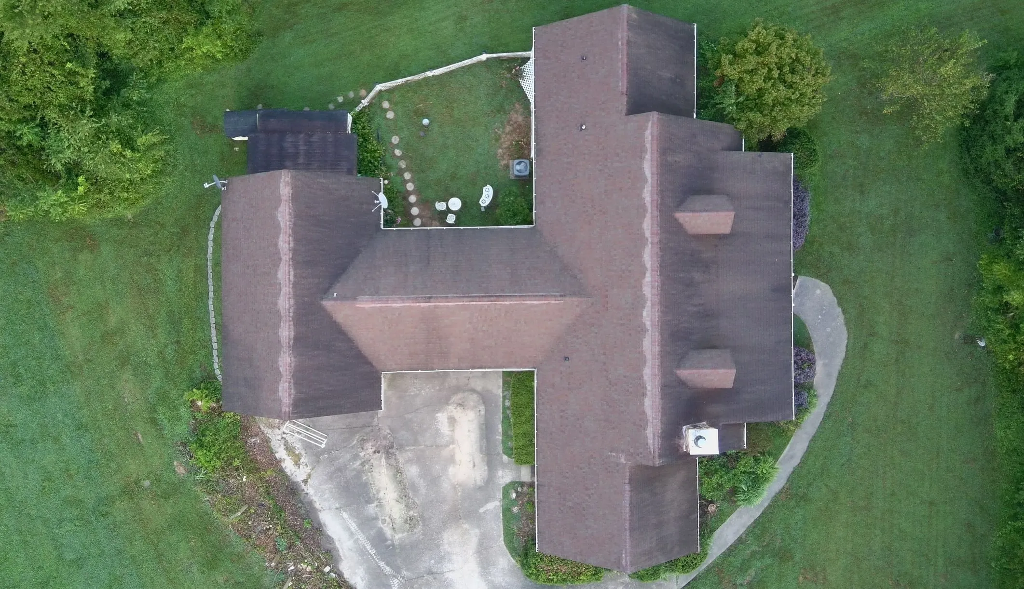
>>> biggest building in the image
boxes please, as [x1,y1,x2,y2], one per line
[221,3,796,573]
